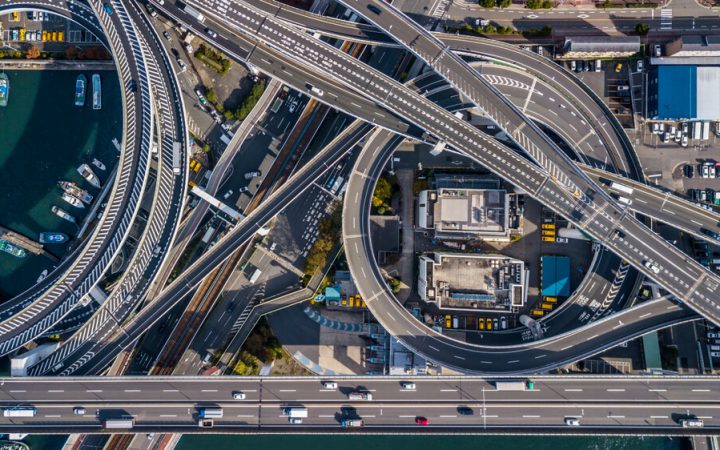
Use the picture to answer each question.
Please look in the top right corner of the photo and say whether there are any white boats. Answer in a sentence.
No, I can find no white boat in the top right corner of the photo.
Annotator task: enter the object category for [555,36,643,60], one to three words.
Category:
building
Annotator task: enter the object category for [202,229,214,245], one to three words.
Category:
vehicle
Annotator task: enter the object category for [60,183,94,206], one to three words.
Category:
boat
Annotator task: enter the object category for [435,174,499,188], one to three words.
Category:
building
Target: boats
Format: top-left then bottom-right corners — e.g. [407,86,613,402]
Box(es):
[51,205,75,221]
[92,158,105,169]
[60,183,94,206]
[0,72,8,106]
[39,232,69,243]
[76,75,86,106]
[35,269,49,282]
[0,439,32,450]
[77,162,98,186]
[0,237,28,255]
[92,74,102,109]
[61,191,84,207]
